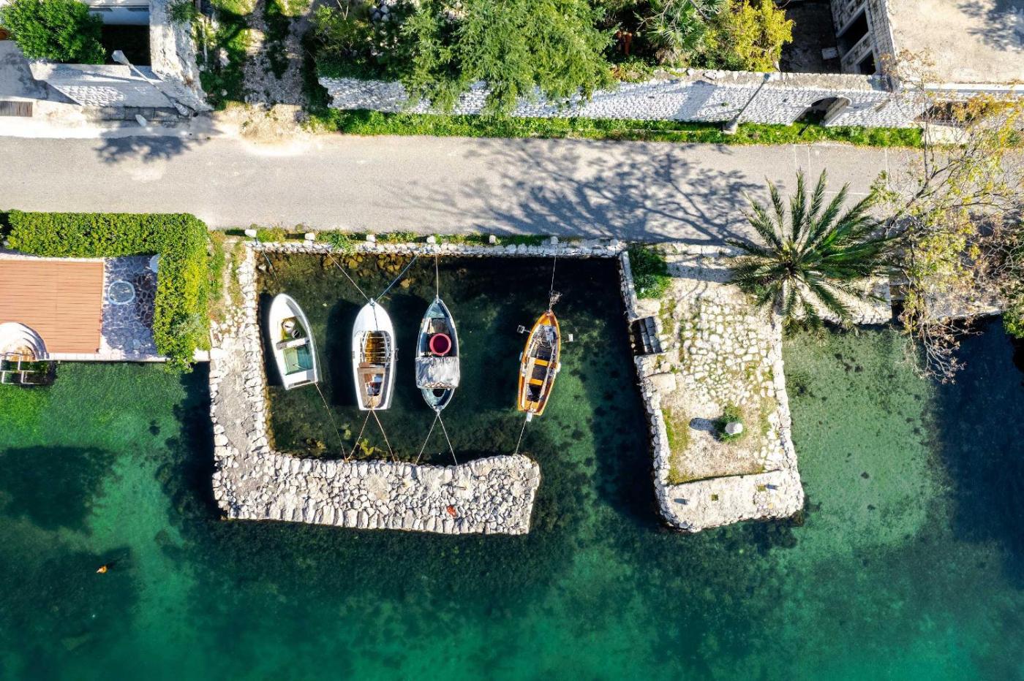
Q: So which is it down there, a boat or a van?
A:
boat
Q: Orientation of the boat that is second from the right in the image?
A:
vertically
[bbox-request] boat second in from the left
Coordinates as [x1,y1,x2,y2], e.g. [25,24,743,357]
[352,300,399,410]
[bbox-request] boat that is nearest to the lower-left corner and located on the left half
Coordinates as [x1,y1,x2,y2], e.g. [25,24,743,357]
[271,294,319,389]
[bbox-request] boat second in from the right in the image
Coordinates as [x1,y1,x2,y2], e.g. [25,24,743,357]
[416,298,460,410]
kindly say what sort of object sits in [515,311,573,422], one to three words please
boat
